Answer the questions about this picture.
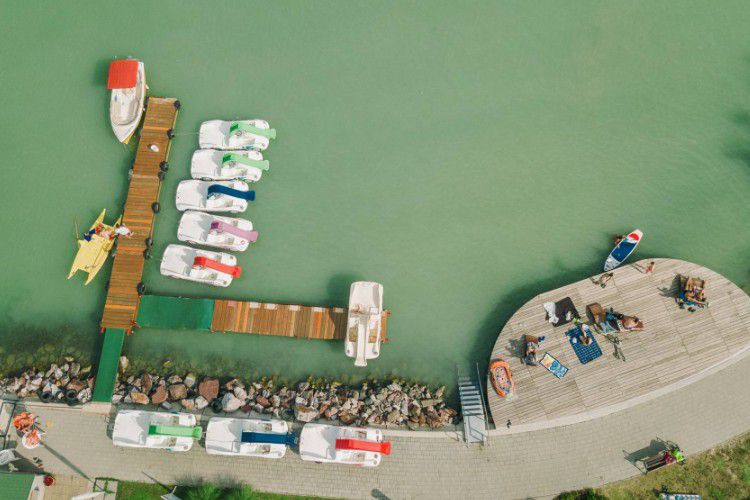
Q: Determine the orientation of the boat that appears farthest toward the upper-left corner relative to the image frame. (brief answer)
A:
vertically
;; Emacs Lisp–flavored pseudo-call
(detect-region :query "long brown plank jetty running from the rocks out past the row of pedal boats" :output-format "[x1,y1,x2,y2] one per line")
[100,96,180,332]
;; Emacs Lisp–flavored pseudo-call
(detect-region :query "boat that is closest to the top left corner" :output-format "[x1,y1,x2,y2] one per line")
[104,53,145,142]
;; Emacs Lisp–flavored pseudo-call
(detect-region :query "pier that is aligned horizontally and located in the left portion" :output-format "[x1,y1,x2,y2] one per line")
[136,295,390,343]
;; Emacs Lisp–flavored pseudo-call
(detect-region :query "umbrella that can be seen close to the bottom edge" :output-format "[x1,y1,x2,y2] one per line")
[70,478,119,500]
